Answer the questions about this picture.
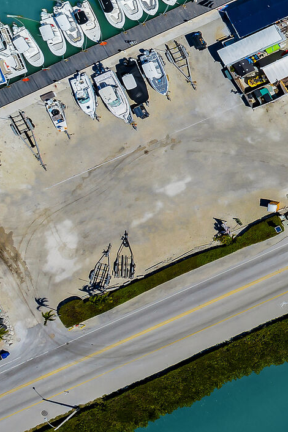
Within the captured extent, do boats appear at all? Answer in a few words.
Yes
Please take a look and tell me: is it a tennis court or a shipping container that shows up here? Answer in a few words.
shipping container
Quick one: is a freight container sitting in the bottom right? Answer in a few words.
No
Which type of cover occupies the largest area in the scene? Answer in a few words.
paved ground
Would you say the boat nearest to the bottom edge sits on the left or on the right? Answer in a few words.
left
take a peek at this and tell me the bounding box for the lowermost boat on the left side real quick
[41,96,64,133]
